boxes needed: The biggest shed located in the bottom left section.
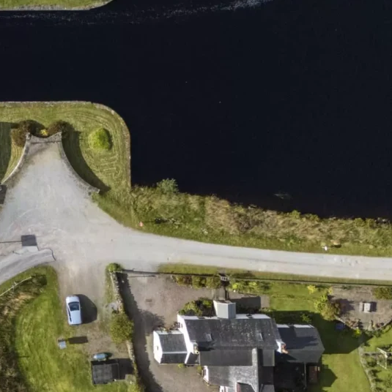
[89,357,120,384]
